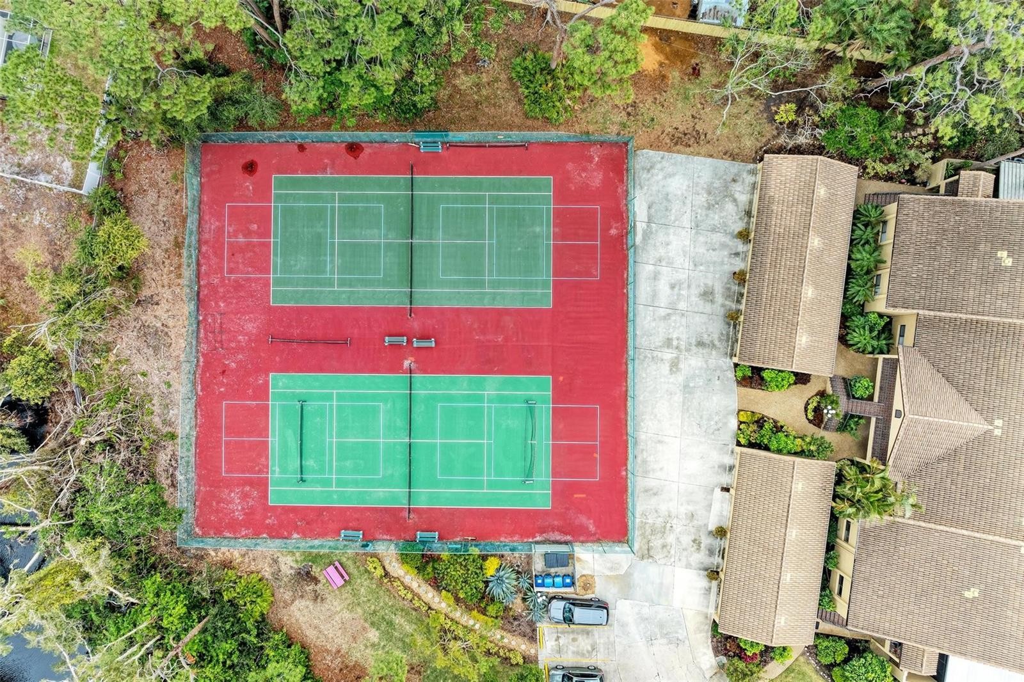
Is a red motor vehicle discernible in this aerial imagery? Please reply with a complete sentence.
No, the frame has no red motor vehicle in it.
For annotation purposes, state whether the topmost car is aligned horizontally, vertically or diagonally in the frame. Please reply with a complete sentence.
I'd say the topmost car is aligned horizontally in the picture.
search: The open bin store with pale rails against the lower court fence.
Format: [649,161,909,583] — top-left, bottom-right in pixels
[535,545,578,595]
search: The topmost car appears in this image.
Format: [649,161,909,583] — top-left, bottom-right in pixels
[548,595,608,627]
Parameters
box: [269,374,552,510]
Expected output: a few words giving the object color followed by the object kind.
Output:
green tennis court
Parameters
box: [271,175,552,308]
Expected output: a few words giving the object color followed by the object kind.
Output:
green tennis court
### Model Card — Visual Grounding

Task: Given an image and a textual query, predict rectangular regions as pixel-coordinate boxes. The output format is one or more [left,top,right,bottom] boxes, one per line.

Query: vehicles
[548,595,608,627]
[549,667,604,682]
